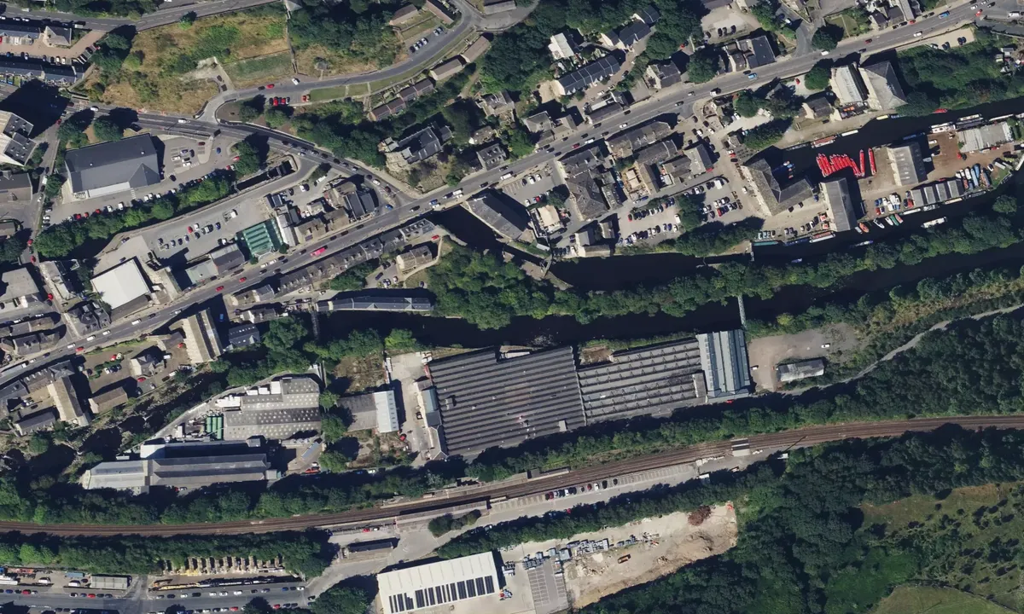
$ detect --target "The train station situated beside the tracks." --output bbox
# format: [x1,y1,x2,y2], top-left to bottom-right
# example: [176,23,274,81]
[321,470,567,556]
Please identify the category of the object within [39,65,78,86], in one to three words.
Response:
house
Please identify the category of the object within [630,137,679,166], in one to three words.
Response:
house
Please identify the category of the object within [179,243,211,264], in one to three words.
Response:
shed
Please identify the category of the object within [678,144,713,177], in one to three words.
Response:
building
